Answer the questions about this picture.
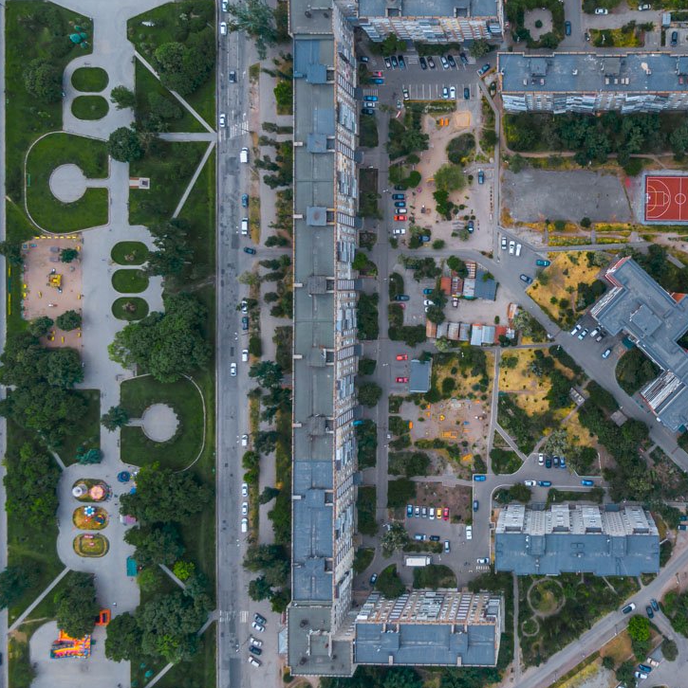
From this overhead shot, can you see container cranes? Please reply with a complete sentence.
No, no container crane is visible in the view.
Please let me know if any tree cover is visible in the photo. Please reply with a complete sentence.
Yes, tree cover shows up in the scene.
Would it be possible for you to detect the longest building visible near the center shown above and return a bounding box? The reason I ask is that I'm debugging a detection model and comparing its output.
[292,37,365,604]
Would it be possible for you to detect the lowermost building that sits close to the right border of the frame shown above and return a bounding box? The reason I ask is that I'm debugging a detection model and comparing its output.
[495,501,659,577]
